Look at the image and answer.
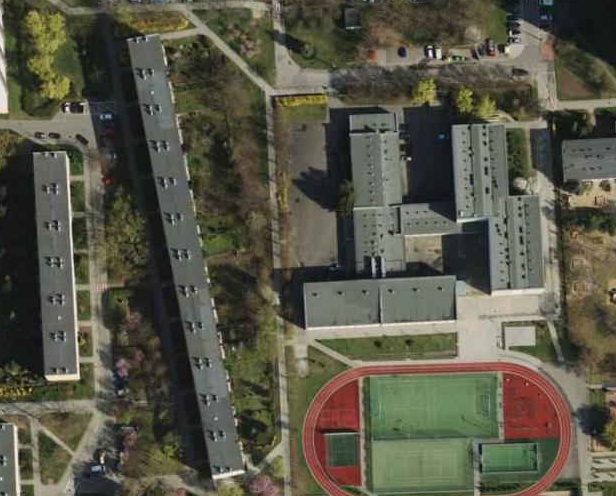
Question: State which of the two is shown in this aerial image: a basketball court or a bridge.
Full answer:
There is a basketball court in the scene.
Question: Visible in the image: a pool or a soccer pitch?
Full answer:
The image shows a soccer pitch.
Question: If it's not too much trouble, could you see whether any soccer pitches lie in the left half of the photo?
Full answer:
No, there's no soccer pitch to be seen in the left half of the photo.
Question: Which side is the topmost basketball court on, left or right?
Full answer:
The topmost basketball court is on the right side of the image.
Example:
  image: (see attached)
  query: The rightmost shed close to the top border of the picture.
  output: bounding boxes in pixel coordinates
[345,8,361,30]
